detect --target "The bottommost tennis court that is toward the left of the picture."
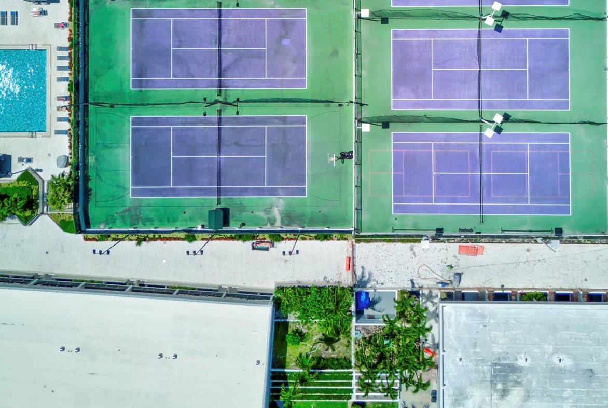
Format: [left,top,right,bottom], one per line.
[95,107,340,207]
